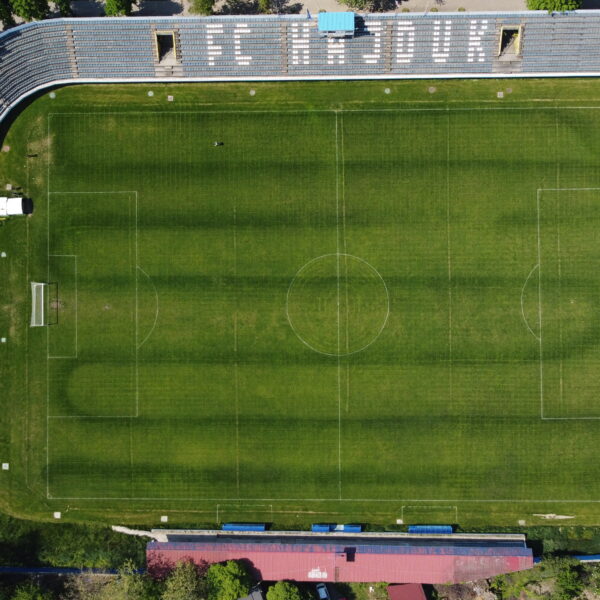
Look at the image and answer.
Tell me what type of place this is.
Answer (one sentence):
What you see here is a sports ground.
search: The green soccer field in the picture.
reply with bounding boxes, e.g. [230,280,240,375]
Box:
[40,103,600,521]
